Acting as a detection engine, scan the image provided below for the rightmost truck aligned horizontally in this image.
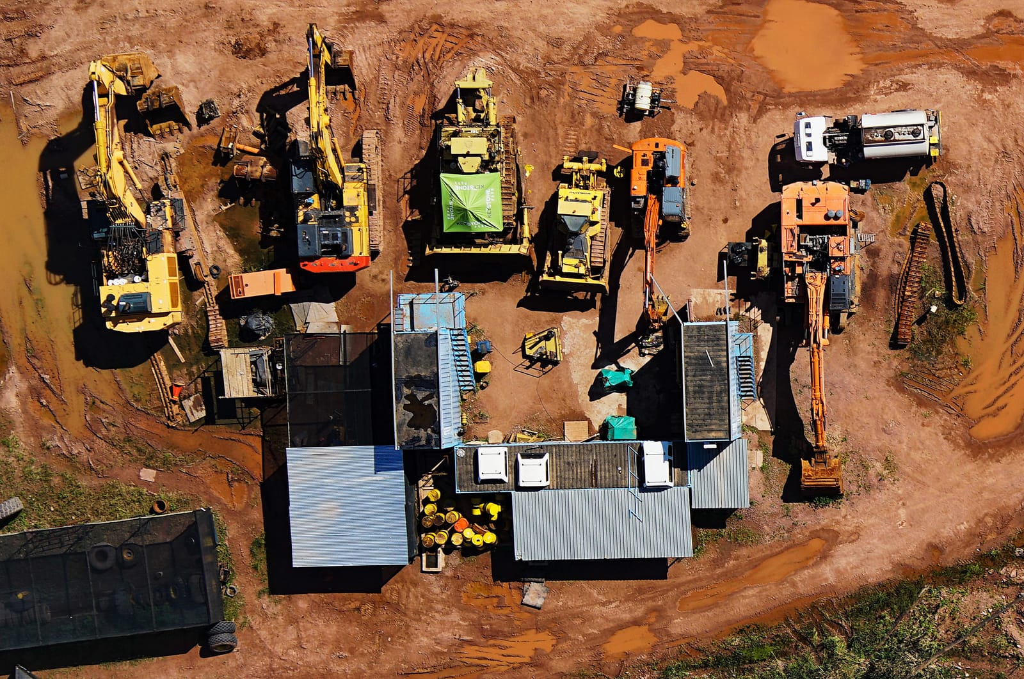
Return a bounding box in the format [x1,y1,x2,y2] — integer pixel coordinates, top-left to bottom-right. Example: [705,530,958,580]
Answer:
[775,106,943,165]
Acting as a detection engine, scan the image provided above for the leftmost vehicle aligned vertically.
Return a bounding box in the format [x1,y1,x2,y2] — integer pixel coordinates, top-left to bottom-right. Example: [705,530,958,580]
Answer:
[85,50,218,333]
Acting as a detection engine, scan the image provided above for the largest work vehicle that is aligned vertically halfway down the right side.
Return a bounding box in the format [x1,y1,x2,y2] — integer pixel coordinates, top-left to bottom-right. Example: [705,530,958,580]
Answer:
[775,179,865,490]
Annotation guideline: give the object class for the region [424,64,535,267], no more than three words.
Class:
work vehicle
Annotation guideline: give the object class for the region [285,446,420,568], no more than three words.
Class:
shed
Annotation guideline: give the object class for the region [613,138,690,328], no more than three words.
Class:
work vehicle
